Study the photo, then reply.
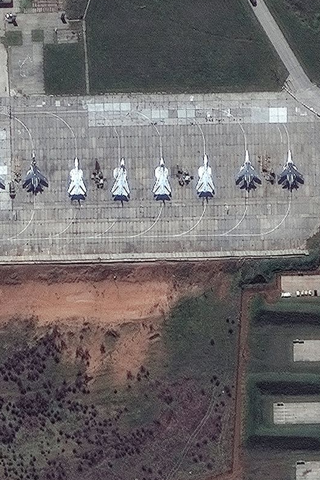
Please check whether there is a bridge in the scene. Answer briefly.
No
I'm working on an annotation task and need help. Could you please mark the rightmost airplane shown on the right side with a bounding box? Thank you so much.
[276,150,304,192]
